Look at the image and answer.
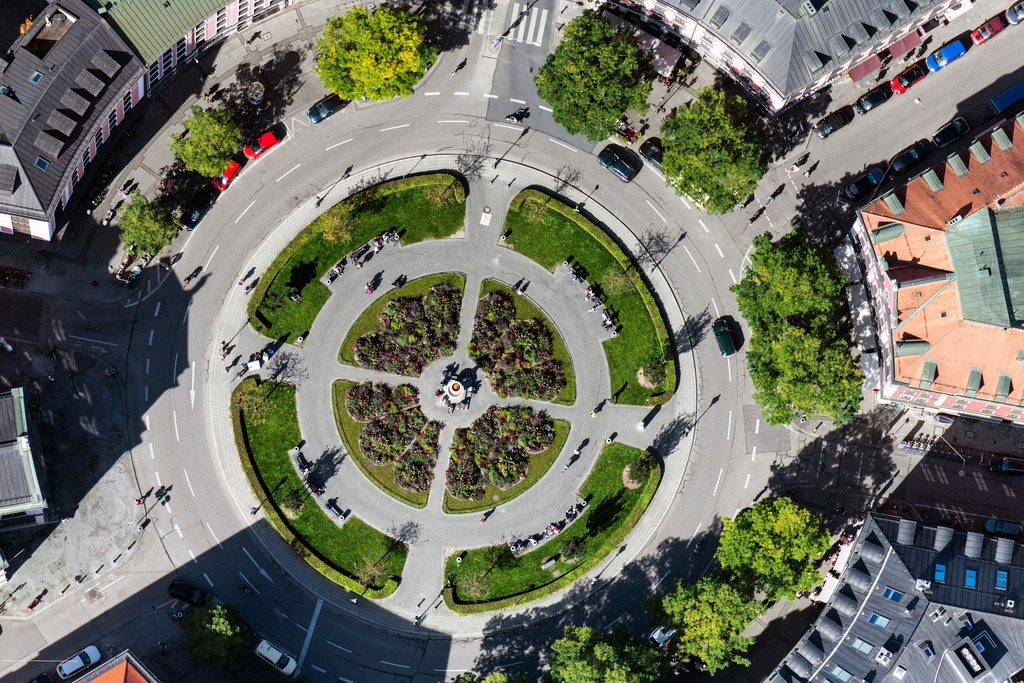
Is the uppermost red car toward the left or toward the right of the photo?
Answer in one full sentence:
You can find the uppermost red car on the right side of the picture.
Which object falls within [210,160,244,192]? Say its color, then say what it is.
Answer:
red car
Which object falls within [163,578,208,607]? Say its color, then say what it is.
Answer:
black car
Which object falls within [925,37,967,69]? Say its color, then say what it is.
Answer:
blue car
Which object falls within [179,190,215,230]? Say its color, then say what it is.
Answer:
black car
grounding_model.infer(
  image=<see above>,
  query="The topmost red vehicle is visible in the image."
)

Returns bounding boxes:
[971,14,1007,42]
